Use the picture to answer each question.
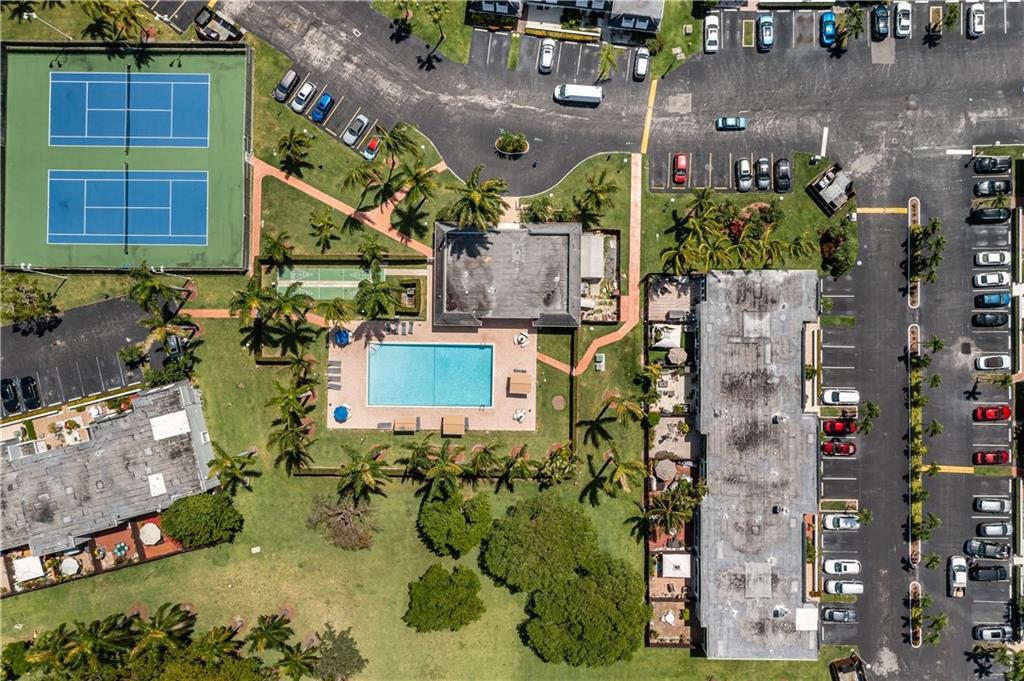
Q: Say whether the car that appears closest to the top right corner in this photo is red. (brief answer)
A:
No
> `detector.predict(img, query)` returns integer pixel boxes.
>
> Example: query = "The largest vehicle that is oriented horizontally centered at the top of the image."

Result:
[553,83,604,104]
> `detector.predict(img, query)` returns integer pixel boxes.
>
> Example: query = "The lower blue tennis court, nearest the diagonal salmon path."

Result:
[5,158,250,268]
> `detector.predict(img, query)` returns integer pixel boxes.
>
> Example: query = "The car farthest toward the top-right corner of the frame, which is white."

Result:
[966,2,987,40]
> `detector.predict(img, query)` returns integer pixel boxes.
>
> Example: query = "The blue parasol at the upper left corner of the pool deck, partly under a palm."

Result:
[333,328,351,346]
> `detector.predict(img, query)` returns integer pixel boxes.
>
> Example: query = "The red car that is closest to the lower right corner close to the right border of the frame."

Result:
[971,450,1009,466]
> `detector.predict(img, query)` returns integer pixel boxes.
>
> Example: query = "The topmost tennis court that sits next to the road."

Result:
[6,48,242,158]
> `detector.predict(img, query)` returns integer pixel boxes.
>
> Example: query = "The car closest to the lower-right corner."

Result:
[972,624,1011,643]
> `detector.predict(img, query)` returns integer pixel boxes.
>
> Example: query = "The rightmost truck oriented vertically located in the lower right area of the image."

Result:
[947,554,968,599]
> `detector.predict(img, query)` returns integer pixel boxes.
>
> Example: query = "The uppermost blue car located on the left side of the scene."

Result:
[310,91,335,124]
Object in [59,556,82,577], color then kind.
white umbrella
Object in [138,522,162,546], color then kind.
white umbrella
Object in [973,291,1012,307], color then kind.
blue vehicle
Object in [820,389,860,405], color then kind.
white car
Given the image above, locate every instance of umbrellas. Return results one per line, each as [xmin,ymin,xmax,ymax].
[59,556,82,577]
[655,459,677,481]
[668,347,688,366]
[333,328,351,346]
[333,405,349,422]
[138,522,162,546]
